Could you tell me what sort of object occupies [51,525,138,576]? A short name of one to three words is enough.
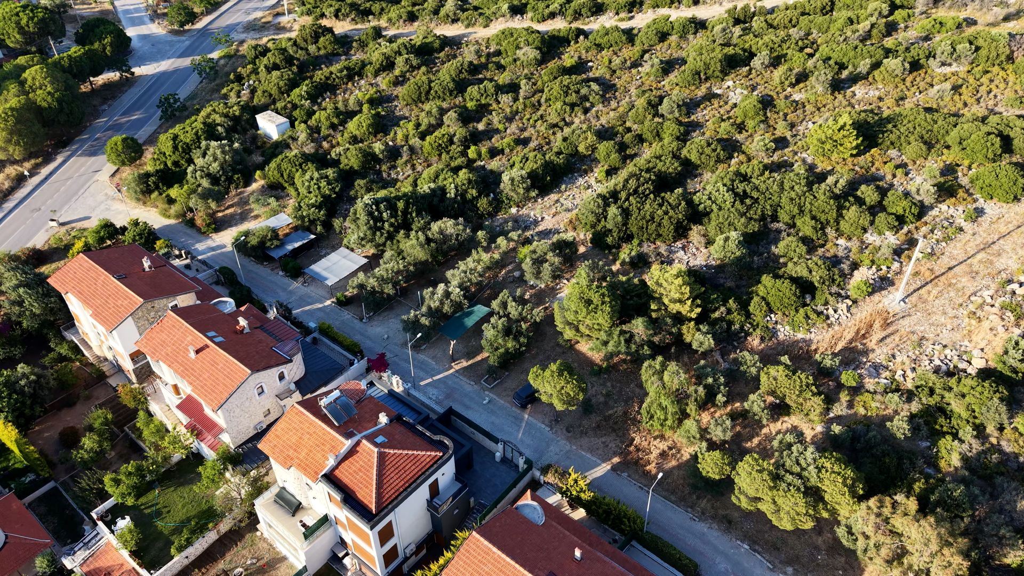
shed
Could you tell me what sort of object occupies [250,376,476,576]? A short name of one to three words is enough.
house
